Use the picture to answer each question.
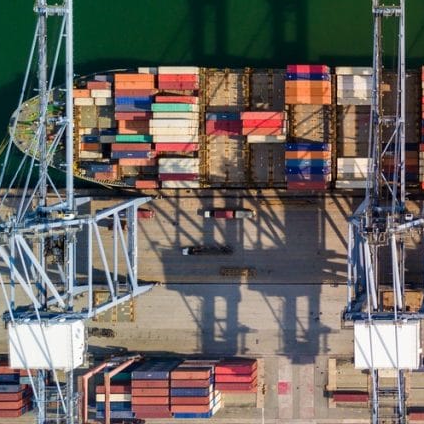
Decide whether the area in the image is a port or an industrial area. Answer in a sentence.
It's a port.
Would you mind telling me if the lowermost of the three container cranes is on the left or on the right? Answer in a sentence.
It is on the left.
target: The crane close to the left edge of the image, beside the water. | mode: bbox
[0,0,167,424]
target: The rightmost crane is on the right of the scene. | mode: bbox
[345,0,424,424]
